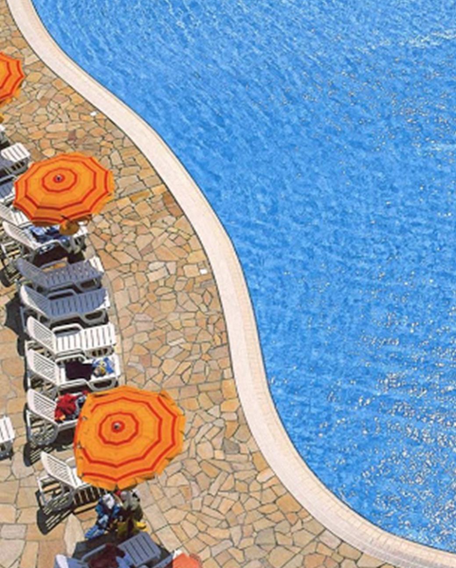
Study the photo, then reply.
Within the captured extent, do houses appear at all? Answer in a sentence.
No, there appears to be no house in this shot.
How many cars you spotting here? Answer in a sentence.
The picture shows no cars.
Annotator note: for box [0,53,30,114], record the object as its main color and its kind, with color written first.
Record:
orange umbrella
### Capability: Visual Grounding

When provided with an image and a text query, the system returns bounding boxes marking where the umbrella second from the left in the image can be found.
[16,148,115,262]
